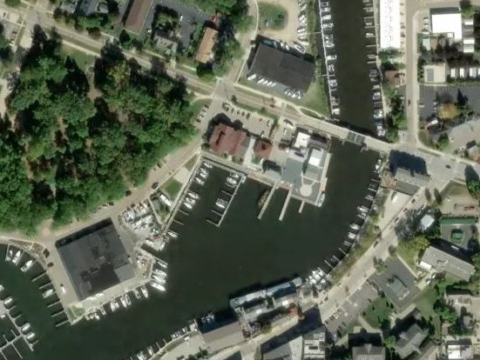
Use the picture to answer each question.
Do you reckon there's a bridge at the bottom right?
No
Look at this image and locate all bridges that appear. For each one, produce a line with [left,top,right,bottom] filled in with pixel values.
[327,122,382,152]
